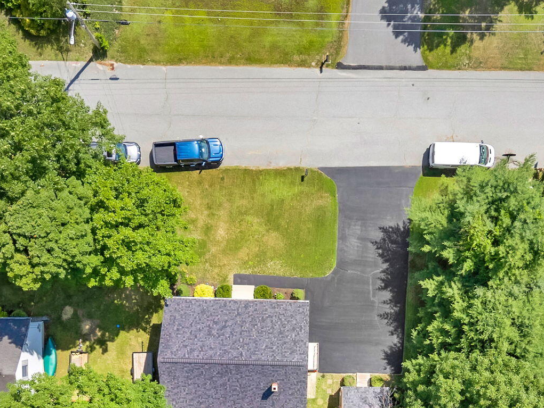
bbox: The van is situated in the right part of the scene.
[429,141,493,172]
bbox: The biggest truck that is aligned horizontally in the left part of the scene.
[154,137,225,170]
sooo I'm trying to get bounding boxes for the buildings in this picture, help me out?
[0,316,51,405]
[158,296,309,408]
[341,387,393,408]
